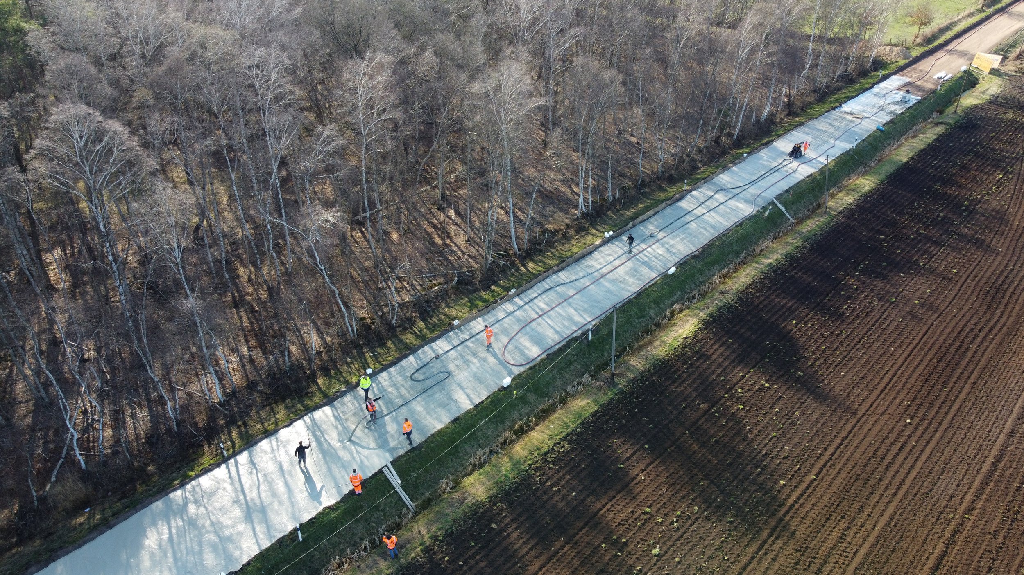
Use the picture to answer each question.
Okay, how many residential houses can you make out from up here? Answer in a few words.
0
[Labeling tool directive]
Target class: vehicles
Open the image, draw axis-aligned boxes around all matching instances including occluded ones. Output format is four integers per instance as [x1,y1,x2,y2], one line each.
[792,143,805,159]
